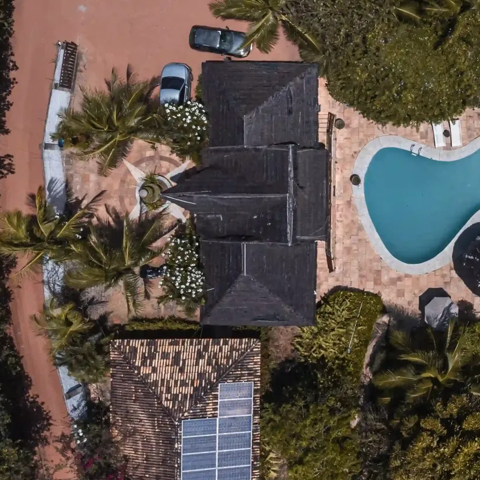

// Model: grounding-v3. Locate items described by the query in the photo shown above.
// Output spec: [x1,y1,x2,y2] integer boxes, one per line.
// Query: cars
[159,61,195,120]
[190,26,251,57]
